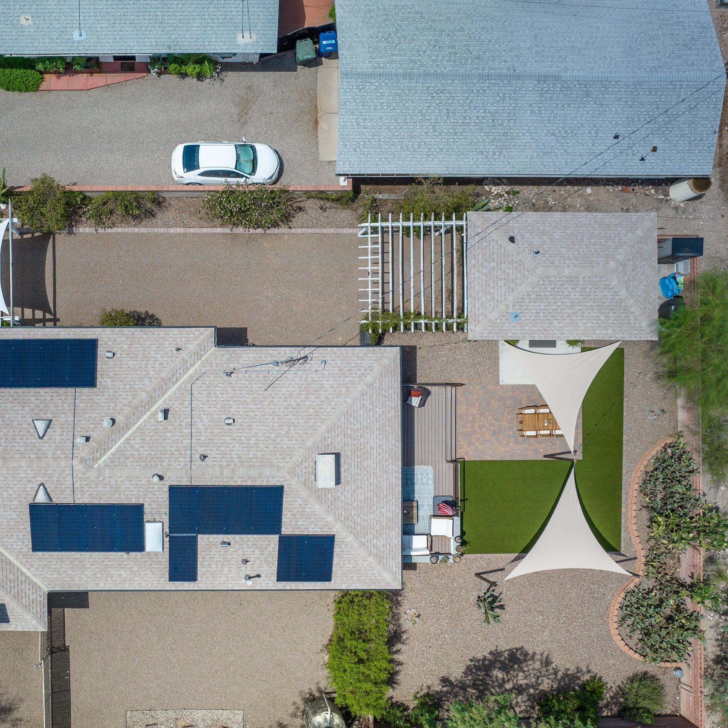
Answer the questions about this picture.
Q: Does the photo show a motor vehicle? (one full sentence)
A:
Yes, this view includes a motor vehicle.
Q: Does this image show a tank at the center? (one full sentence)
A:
No, there's no tank to be seen at the center.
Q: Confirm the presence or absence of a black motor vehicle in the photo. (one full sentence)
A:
No, the frame has no black motor vehicle in it.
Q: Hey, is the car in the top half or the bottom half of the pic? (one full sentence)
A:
The car sits in the top half of the picture.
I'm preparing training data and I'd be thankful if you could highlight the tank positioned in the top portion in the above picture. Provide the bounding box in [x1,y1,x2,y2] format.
[665,177,712,207]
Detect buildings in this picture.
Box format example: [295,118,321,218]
[455,211,658,341]
[334,0,726,192]
[0,0,279,63]
[0,324,404,630]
